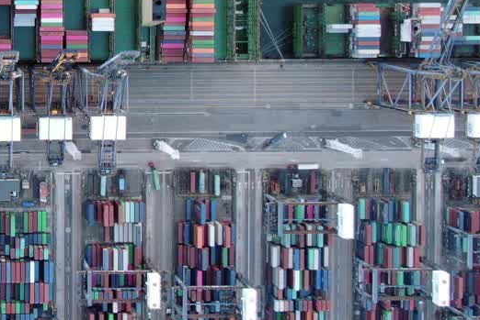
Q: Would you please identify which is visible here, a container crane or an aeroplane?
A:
container crane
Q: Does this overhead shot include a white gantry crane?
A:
Yes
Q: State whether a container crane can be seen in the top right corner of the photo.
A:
Yes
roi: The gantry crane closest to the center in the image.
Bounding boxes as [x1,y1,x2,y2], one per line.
[260,192,353,241]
